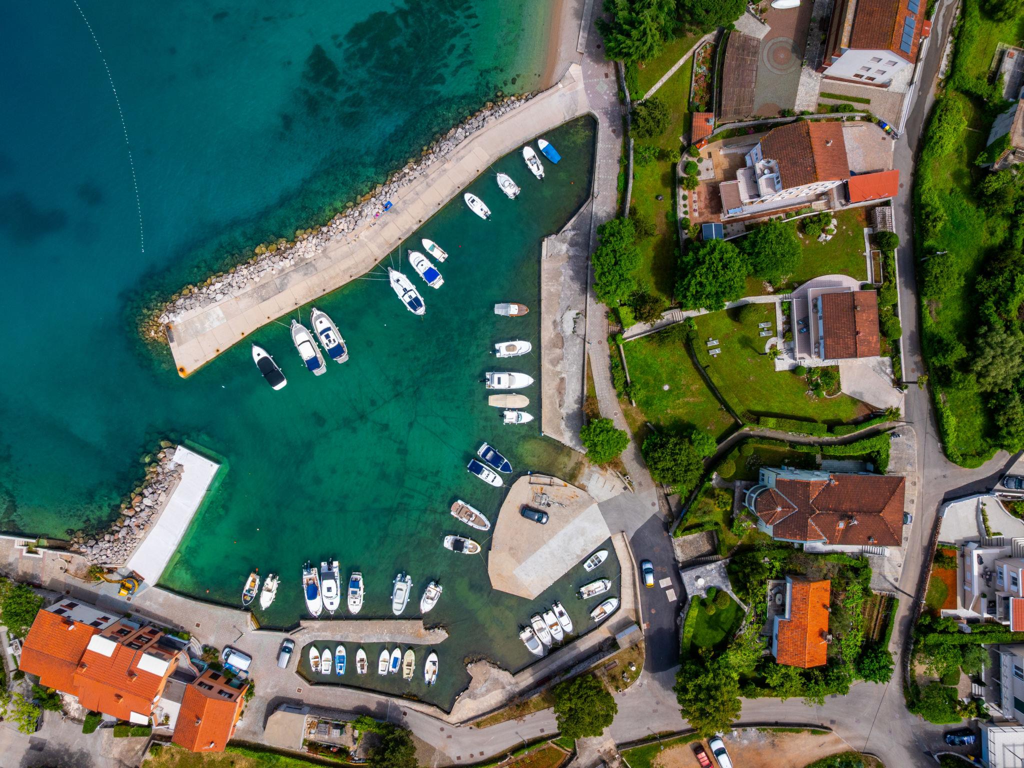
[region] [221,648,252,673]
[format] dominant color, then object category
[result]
white vehicle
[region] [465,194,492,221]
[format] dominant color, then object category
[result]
white boat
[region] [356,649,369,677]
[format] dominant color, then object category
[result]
white boat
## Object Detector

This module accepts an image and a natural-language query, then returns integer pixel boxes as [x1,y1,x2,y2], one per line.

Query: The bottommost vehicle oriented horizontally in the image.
[943,730,977,747]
